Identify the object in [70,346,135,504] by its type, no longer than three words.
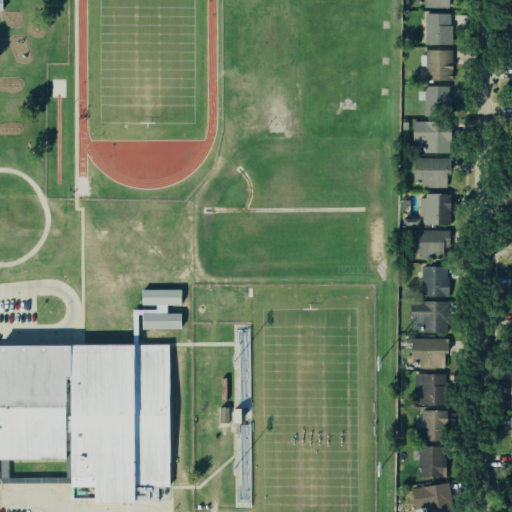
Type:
building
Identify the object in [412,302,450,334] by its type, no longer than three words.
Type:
house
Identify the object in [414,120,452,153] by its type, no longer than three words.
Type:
house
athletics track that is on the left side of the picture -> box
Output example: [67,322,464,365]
[78,0,218,189]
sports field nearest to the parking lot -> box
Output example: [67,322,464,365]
[263,309,358,512]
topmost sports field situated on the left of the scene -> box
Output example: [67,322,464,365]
[101,0,196,123]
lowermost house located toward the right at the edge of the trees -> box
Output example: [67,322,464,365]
[412,483,453,512]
